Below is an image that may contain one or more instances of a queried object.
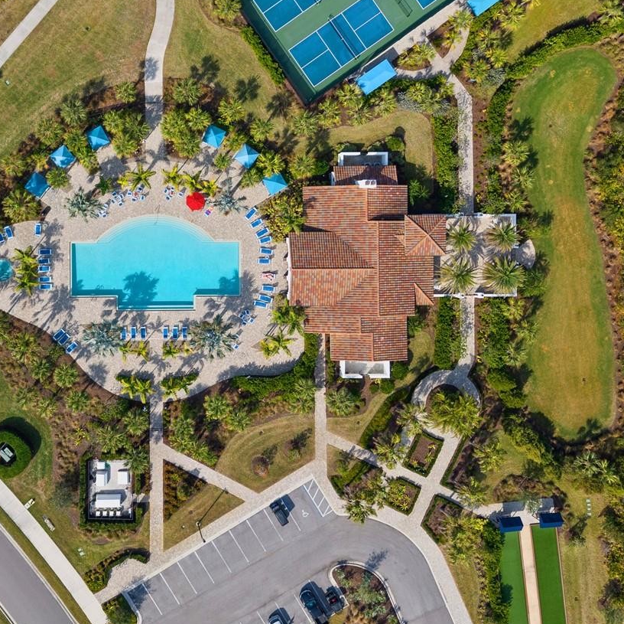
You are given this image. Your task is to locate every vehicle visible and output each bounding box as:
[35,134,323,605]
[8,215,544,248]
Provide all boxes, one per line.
[269,613,286,624]
[300,587,328,624]
[268,502,289,530]
[324,587,343,612]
